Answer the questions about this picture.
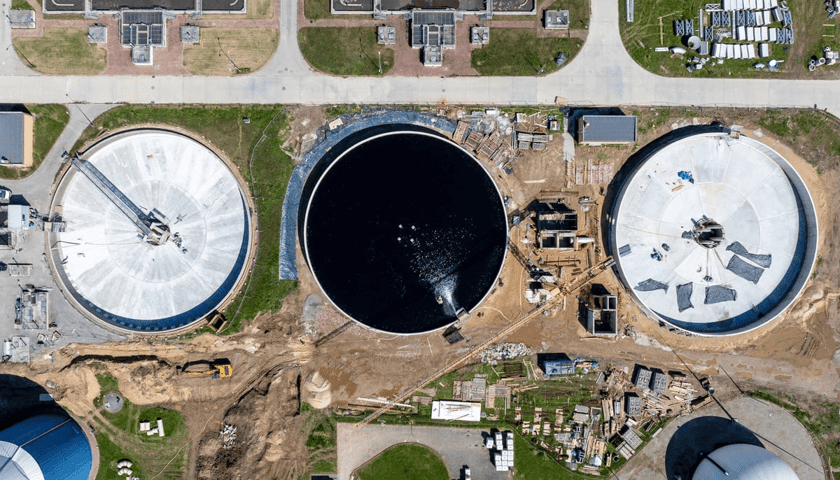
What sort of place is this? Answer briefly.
industrial area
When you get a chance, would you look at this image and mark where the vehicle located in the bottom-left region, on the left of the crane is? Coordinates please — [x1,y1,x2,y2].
[177,365,231,382]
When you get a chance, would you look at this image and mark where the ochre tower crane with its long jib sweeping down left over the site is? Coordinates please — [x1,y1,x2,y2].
[354,256,614,431]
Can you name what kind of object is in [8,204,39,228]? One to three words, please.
building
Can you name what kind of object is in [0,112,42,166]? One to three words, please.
building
